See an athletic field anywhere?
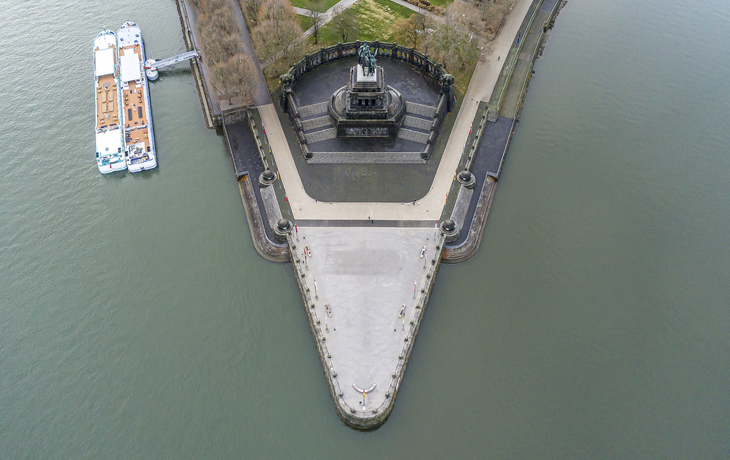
No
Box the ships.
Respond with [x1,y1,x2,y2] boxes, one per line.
[94,22,128,173]
[118,19,160,173]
